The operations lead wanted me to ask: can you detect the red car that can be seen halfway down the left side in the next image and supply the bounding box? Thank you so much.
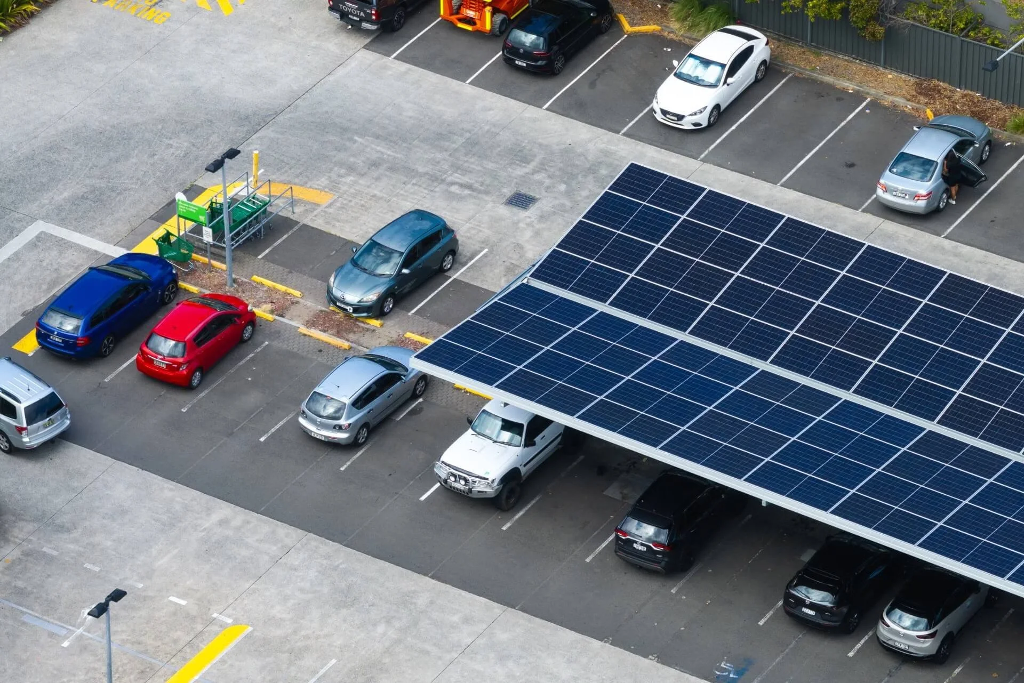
[137,294,254,388]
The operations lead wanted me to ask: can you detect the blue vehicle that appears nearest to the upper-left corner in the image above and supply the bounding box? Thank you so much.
[33,253,180,363]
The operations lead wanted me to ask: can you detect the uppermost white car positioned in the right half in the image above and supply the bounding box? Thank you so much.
[654,25,773,129]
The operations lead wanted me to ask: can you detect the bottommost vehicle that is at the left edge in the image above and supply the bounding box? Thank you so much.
[0,356,71,452]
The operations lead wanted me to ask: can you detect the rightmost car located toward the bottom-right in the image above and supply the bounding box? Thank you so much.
[876,564,996,664]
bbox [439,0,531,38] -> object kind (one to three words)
work vehicle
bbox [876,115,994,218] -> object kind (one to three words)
car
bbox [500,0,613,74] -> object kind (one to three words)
car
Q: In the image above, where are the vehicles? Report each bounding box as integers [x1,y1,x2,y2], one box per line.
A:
[33,253,180,363]
[500,0,613,74]
[654,25,773,129]
[784,532,908,635]
[297,347,427,446]
[137,294,254,388]
[876,564,996,664]
[876,115,994,218]
[607,468,739,573]
[0,356,71,452]
[328,211,458,316]
[323,0,416,32]
[432,402,578,508]
[439,0,531,38]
